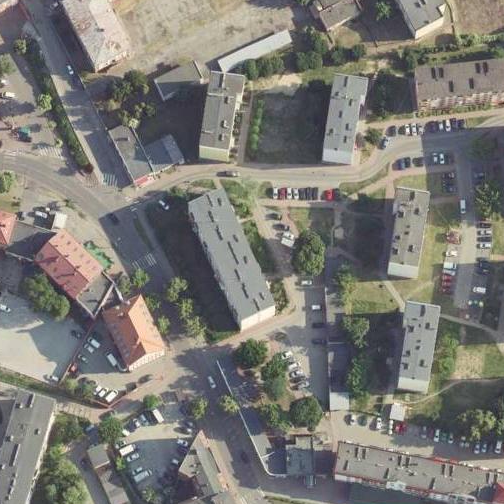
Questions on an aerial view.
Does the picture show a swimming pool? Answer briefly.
No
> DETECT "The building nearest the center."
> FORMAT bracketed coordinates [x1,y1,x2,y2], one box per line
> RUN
[188,189,275,331]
